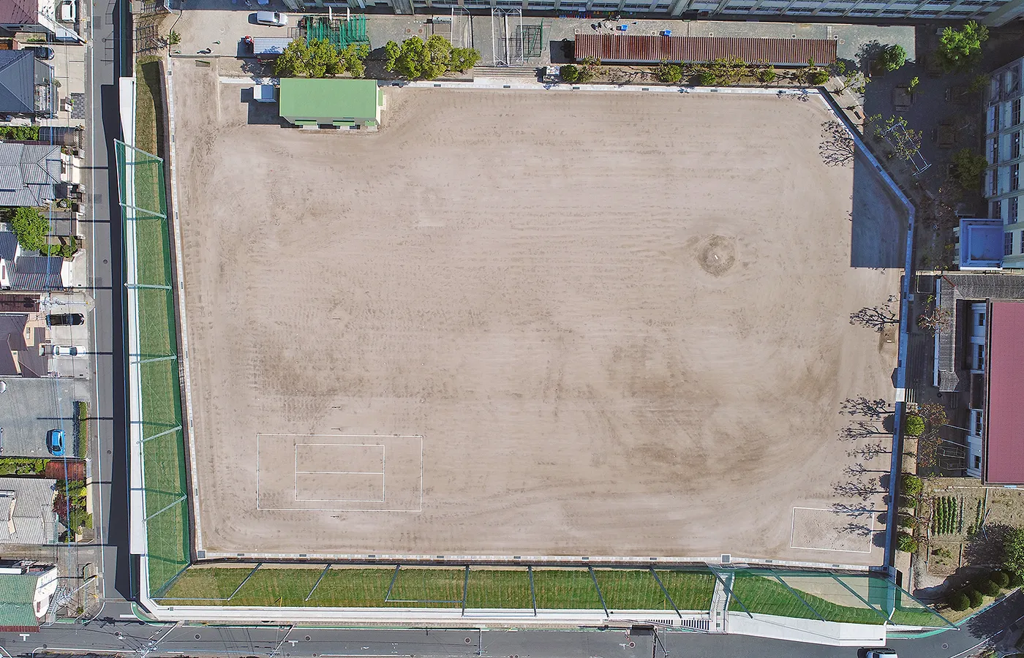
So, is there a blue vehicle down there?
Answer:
Yes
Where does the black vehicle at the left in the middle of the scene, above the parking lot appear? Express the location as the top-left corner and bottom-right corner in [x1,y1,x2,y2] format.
[45,312,83,327]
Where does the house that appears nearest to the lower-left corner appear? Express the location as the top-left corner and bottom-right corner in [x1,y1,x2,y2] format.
[0,550,68,632]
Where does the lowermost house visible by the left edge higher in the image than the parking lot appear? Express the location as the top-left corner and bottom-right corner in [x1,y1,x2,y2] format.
[0,314,57,376]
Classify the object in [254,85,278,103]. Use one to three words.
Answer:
shed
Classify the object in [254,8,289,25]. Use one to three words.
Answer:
vehicle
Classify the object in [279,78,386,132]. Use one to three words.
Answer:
shed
